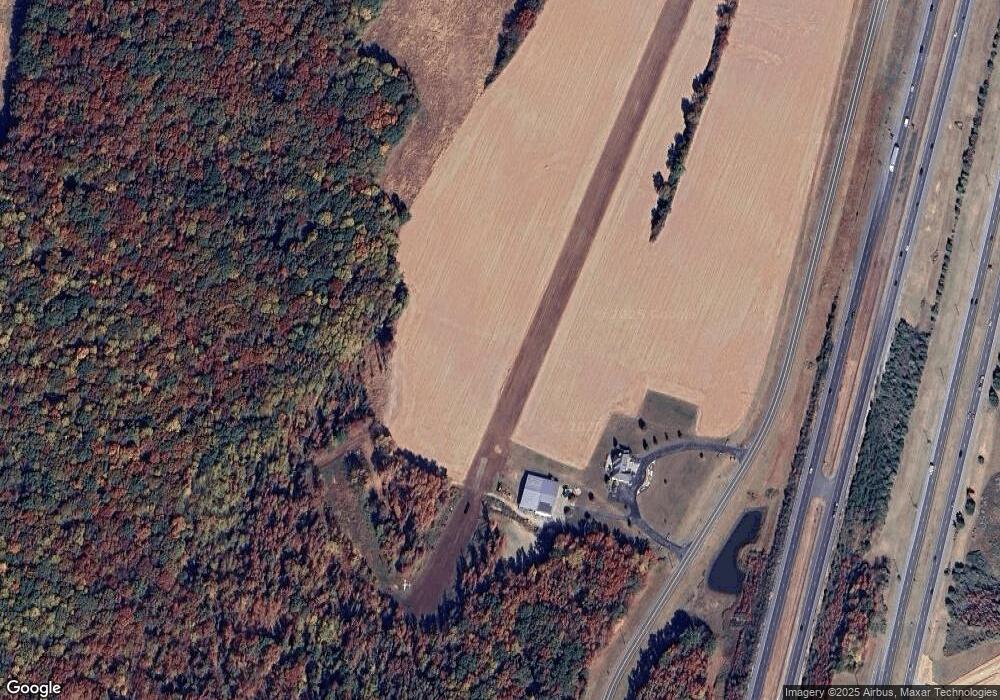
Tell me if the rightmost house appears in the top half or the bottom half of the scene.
bottom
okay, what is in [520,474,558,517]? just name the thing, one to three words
shed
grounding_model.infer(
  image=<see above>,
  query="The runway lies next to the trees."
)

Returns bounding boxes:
[398,0,692,616]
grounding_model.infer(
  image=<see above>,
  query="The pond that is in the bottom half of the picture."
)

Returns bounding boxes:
[709,510,761,594]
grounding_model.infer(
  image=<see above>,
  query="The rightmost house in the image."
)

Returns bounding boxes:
[607,449,643,487]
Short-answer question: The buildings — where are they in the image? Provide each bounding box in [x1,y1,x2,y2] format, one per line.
[607,449,643,487]
[520,474,558,517]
